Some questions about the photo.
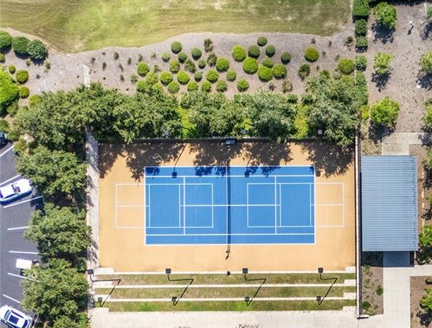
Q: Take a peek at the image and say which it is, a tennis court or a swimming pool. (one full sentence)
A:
There is a tennis court in the scene.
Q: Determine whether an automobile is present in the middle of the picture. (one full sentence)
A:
No, there's no automobile to be seen in the middle of the picture.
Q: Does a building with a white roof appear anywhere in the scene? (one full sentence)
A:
No, the photo shows no building with a white roof.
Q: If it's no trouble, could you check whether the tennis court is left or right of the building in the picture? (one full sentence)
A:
Compared with the building, the tennis court is located further to the left.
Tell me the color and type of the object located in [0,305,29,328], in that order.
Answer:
white car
